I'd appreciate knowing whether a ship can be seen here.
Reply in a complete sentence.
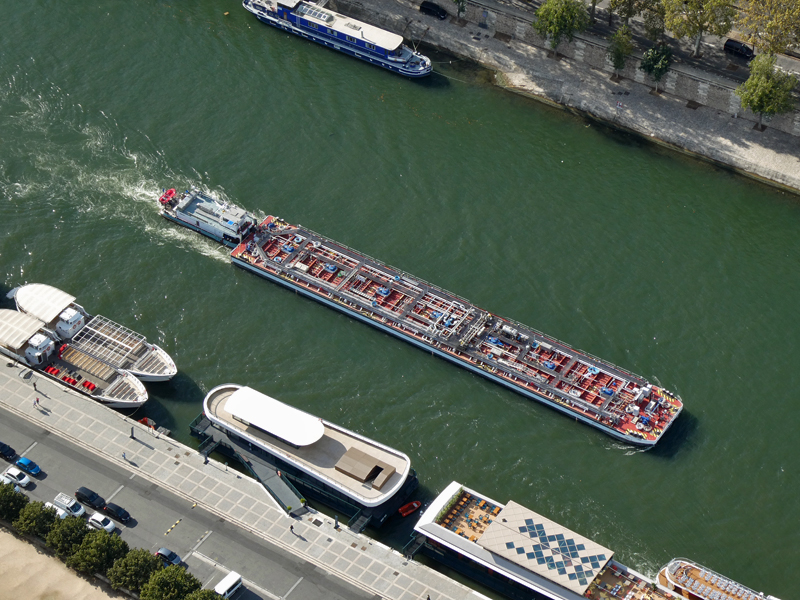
Yes, there is a ship in the image.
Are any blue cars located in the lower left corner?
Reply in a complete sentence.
Yes, a blue car is visible in the lower left corner.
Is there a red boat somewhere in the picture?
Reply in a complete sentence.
Yes, a red boat is visible in the scene.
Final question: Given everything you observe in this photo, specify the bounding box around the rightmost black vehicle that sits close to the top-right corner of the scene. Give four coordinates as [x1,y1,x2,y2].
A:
[724,40,752,59]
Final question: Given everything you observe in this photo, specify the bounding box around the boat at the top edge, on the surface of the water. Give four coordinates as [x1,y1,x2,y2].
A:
[245,0,434,84]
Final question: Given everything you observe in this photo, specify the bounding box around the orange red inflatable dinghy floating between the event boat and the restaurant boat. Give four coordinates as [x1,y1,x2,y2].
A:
[399,502,420,518]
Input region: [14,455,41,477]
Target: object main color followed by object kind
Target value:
blue car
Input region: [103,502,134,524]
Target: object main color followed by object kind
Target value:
black car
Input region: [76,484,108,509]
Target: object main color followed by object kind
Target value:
black car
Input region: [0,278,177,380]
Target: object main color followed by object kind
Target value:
white boat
